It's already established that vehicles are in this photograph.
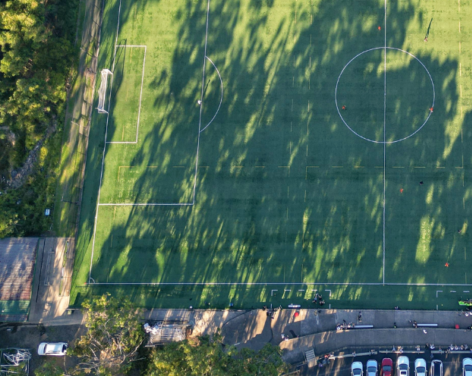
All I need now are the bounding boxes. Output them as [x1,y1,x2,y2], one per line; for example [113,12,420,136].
[414,358,428,376]
[36,342,68,357]
[365,358,379,376]
[380,358,394,376]
[431,360,443,376]
[396,357,410,376]
[461,357,472,376]
[350,360,364,376]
